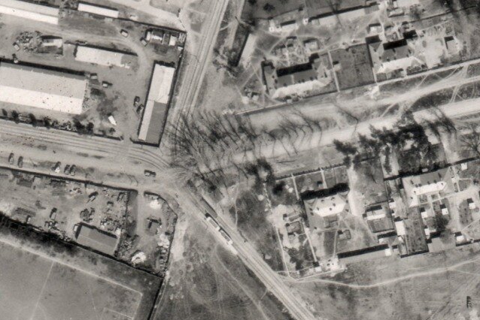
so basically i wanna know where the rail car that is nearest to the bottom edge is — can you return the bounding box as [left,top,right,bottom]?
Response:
[220,228,234,246]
